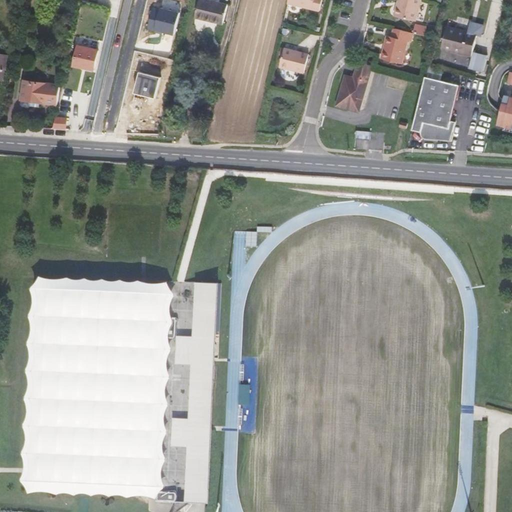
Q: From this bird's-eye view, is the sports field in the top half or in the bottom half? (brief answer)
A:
bottom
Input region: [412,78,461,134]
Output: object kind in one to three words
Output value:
building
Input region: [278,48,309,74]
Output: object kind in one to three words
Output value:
house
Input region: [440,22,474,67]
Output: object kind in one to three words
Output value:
house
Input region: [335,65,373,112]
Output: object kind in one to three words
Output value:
building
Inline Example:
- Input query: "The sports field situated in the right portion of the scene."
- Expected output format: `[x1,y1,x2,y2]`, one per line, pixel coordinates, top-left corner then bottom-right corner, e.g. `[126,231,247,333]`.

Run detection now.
[240,216,463,512]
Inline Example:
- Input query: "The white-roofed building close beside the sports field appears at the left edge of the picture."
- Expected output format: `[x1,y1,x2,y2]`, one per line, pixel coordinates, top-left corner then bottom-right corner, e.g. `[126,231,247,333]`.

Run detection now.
[20,272,176,502]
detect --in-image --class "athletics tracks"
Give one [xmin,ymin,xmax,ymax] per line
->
[222,202,476,512]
